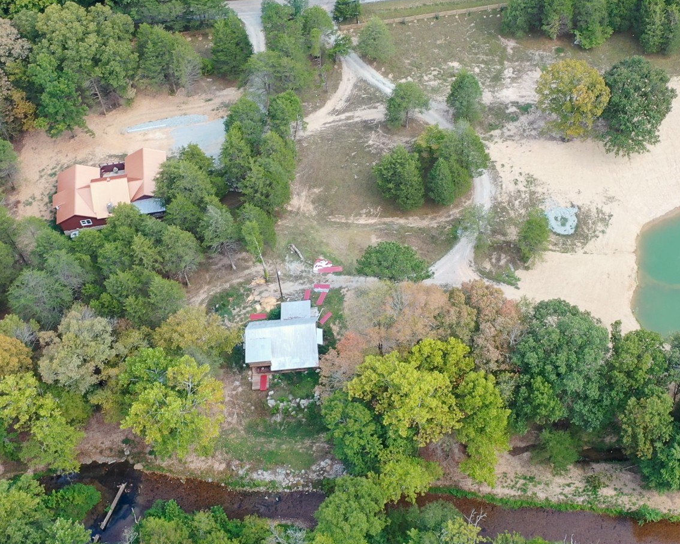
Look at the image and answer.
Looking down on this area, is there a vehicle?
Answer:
No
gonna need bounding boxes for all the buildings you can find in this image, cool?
[242,300,327,393]
[52,146,169,234]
